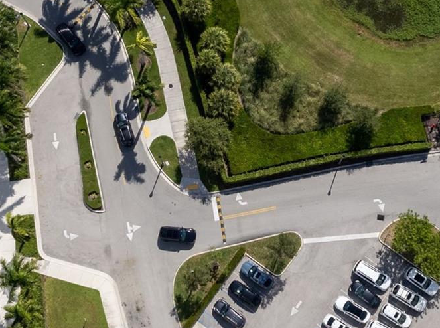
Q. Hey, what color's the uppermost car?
black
